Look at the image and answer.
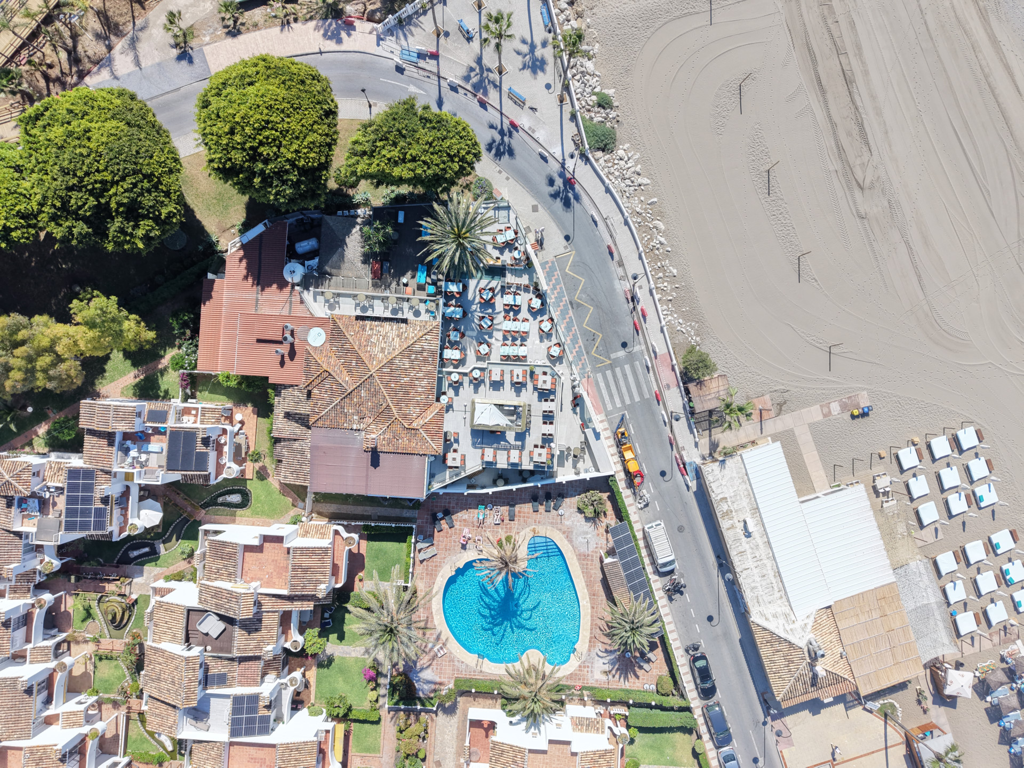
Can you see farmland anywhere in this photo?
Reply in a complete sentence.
No, farmland can't be seen anywhere here.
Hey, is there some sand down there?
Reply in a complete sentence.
Yes, there is sand in the image.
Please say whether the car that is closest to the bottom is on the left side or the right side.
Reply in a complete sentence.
The car that is closest to the bottom appears in the right half of the scene.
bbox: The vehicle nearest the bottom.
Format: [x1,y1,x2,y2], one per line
[719,747,742,768]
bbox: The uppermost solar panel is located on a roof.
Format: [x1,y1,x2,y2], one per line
[147,410,167,422]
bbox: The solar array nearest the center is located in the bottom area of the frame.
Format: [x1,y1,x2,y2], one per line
[610,522,659,617]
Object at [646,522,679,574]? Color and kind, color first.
white van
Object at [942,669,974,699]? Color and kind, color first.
white umbrella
